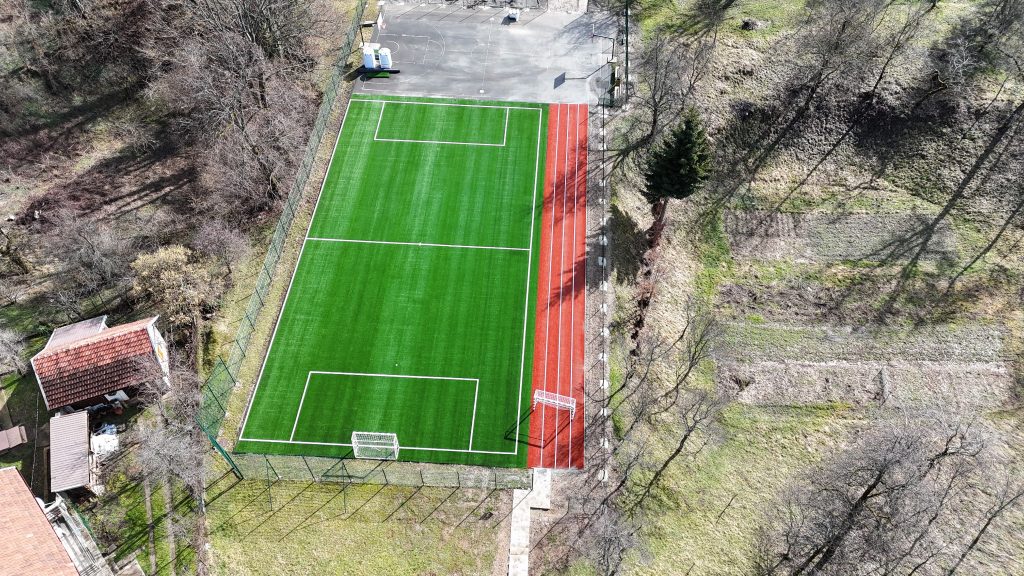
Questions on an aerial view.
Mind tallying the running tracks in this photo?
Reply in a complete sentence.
The photo contains exactly 1 running track.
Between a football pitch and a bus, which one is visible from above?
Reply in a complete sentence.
I can see a football pitch in this picture.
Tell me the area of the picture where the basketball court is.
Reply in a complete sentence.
Look in the top portion of the view to spot the basketball court.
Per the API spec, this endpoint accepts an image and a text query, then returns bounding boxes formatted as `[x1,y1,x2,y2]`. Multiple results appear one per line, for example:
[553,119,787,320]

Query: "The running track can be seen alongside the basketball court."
[527,104,590,470]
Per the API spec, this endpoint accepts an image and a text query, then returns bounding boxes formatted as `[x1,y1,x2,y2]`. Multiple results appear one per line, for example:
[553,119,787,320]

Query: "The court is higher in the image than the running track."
[349,4,605,104]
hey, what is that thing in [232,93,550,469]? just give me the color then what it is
green soccer field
